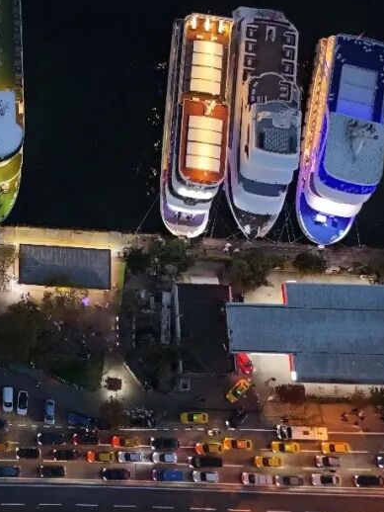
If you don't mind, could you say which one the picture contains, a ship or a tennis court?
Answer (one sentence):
Visible in the photo is a ship.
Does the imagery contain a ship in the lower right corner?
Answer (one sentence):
No, looking in the lower right corner, there is no ship.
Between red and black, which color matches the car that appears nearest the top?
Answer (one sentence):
The car that appears nearest the top looks red in the image.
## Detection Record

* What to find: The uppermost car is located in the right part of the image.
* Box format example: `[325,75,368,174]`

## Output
[235,352,255,376]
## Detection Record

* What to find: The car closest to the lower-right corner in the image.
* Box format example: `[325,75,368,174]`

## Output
[354,473,383,488]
